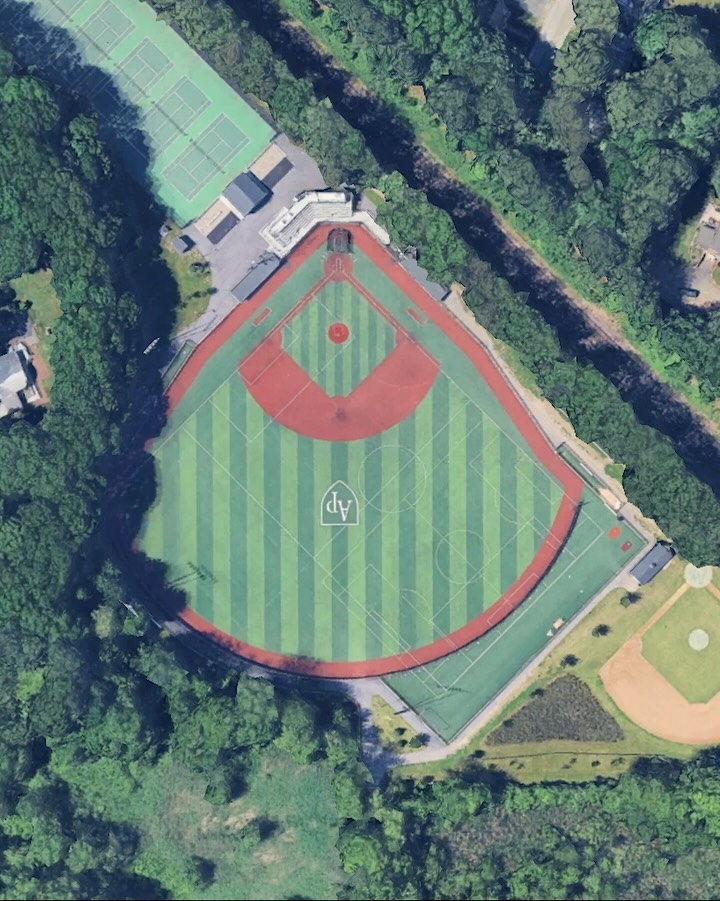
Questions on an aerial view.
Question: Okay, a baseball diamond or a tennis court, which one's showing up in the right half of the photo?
baseball diamond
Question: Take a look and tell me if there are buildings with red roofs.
No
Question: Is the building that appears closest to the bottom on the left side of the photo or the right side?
right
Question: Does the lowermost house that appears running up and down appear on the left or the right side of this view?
left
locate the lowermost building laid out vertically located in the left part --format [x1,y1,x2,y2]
[0,347,30,413]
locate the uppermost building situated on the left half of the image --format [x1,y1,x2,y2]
[222,173,266,219]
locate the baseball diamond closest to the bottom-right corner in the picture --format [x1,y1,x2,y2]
[600,561,720,744]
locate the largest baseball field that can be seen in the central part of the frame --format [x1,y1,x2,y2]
[98,223,583,699]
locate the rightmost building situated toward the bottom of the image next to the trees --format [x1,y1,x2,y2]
[632,543,673,584]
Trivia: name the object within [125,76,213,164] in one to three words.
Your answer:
tennis court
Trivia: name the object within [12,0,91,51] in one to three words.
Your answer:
tennis court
